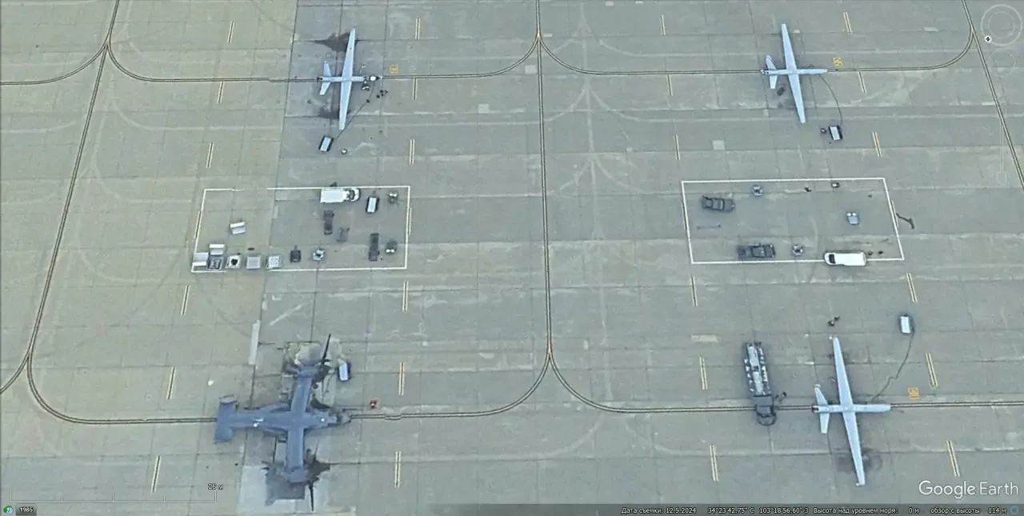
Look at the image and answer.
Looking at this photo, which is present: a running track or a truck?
truck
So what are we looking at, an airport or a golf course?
airport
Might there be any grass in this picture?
No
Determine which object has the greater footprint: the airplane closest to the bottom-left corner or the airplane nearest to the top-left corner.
the airplane closest to the bottom-left corner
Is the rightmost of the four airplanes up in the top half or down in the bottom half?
bottom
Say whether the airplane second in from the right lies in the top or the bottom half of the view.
top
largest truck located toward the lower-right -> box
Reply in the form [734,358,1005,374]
[744,343,778,429]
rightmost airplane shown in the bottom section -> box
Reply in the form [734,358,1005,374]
[808,335,889,487]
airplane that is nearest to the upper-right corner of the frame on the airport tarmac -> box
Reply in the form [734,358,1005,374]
[761,23,826,123]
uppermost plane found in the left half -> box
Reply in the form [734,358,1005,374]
[315,28,382,129]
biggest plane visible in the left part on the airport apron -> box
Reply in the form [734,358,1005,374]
[210,323,358,510]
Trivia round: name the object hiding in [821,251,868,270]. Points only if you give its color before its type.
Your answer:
white vehicle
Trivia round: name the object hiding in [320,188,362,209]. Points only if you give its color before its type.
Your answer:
white truck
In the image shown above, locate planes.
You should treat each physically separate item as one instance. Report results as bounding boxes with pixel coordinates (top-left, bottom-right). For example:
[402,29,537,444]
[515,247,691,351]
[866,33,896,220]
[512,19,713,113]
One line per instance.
[315,28,382,129]
[210,323,358,510]
[761,23,826,123]
[808,335,889,487]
